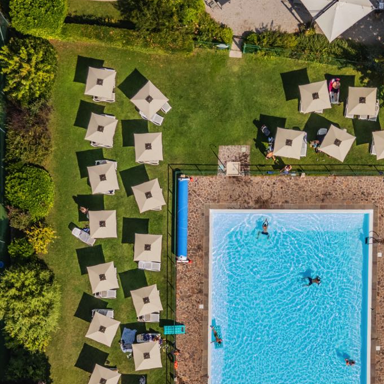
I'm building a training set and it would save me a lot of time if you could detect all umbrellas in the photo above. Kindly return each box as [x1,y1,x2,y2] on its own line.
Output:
[85,67,118,101]
[132,178,167,214]
[300,0,374,42]
[85,310,121,346]
[87,363,122,384]
[318,124,356,162]
[84,112,119,149]
[372,130,384,160]
[86,161,119,194]
[85,260,119,294]
[272,126,306,160]
[132,233,162,263]
[132,338,163,370]
[129,81,171,121]
[130,282,164,316]
[134,132,163,162]
[88,210,117,240]
[347,86,377,117]
[298,81,331,115]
